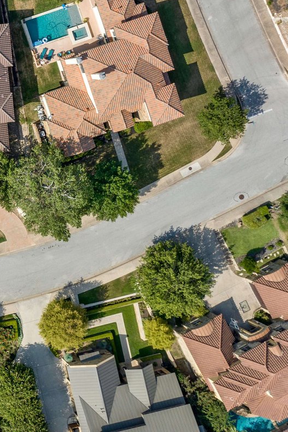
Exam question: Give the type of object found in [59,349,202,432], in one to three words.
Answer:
house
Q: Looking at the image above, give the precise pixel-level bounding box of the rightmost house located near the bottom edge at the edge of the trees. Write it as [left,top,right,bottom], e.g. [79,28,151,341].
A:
[171,309,288,432]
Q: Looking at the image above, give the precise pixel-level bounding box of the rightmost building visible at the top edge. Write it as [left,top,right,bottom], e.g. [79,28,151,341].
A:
[37,0,187,154]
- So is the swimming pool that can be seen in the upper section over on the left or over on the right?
left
